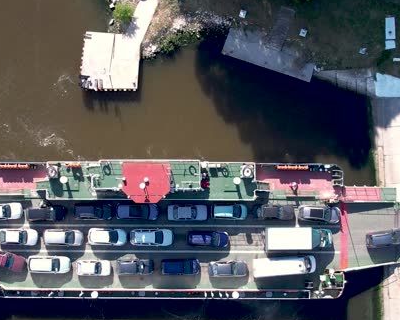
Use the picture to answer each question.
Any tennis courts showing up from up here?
No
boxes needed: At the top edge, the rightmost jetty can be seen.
[222,6,313,83]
